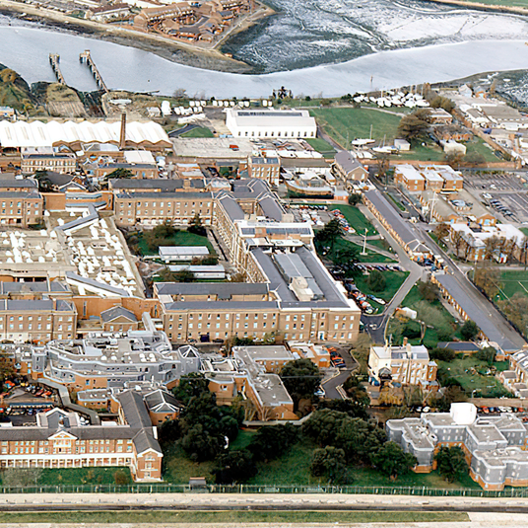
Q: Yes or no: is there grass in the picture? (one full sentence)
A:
Yes, grass can be seen from above here.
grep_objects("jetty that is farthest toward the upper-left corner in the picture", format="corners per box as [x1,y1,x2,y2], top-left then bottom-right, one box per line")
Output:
[43,48,67,85]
